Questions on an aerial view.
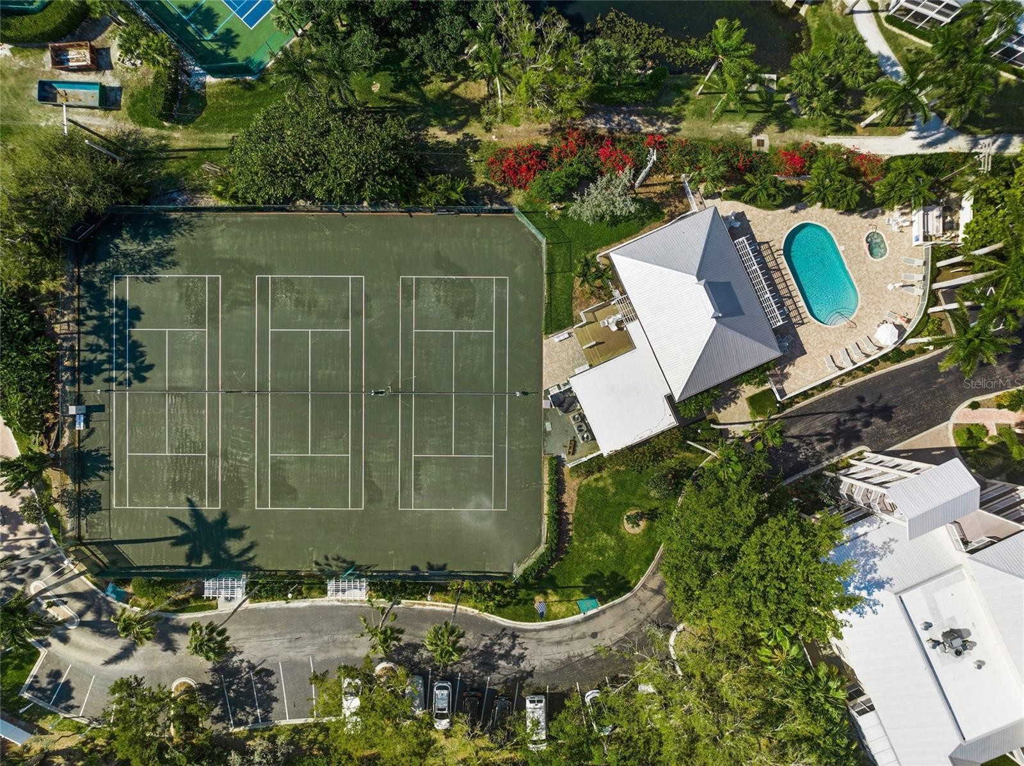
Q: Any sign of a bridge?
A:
No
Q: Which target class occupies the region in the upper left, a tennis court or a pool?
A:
tennis court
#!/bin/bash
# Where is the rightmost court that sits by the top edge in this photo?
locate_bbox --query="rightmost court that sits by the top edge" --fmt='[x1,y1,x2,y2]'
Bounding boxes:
[134,0,325,77]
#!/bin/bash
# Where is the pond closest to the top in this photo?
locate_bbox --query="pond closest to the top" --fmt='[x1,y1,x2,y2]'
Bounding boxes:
[537,0,806,76]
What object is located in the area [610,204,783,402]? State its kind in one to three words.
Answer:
building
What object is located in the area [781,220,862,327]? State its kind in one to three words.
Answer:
swimming pool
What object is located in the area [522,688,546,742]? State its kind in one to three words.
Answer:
vehicle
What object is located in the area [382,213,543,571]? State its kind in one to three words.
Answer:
tennis court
